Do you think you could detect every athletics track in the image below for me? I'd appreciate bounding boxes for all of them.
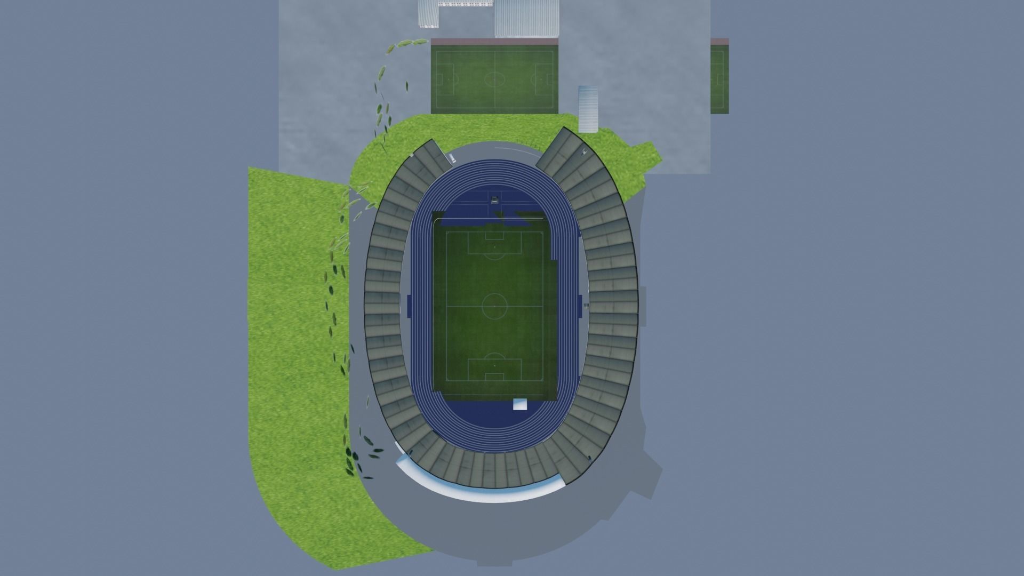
[407,159,582,454]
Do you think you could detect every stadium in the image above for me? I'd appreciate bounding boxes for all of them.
[364,126,639,488]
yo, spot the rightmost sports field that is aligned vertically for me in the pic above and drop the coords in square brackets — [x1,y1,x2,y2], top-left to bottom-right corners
[710,38,729,114]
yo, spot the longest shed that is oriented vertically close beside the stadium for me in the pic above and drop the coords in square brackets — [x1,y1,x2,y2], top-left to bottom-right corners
[579,86,598,133]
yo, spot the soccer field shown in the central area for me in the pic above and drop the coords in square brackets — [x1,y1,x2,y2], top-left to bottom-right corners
[433,211,557,401]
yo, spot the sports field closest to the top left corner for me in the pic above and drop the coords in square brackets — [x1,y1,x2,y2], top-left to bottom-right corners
[431,38,558,114]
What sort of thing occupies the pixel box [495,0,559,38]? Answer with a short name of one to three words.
building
